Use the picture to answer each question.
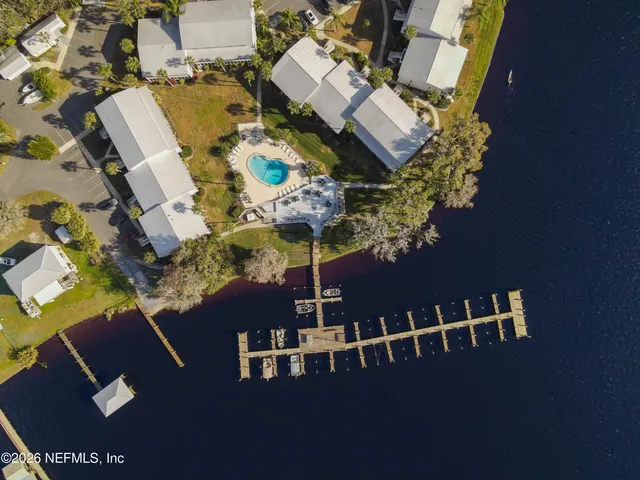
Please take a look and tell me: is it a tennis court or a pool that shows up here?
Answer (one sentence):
Visible in the photo is a pool.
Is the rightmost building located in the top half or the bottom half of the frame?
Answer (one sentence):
It is in the top half that the rightmost building appears.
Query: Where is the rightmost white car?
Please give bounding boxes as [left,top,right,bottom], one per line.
[305,6,319,26]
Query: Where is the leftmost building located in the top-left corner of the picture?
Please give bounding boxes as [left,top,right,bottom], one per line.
[0,44,36,82]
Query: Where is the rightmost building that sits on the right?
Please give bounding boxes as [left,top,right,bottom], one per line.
[386,0,472,96]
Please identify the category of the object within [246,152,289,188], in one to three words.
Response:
swimming pool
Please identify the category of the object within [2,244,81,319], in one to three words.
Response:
house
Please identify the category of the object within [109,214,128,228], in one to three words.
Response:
vehicle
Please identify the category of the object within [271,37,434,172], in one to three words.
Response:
building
